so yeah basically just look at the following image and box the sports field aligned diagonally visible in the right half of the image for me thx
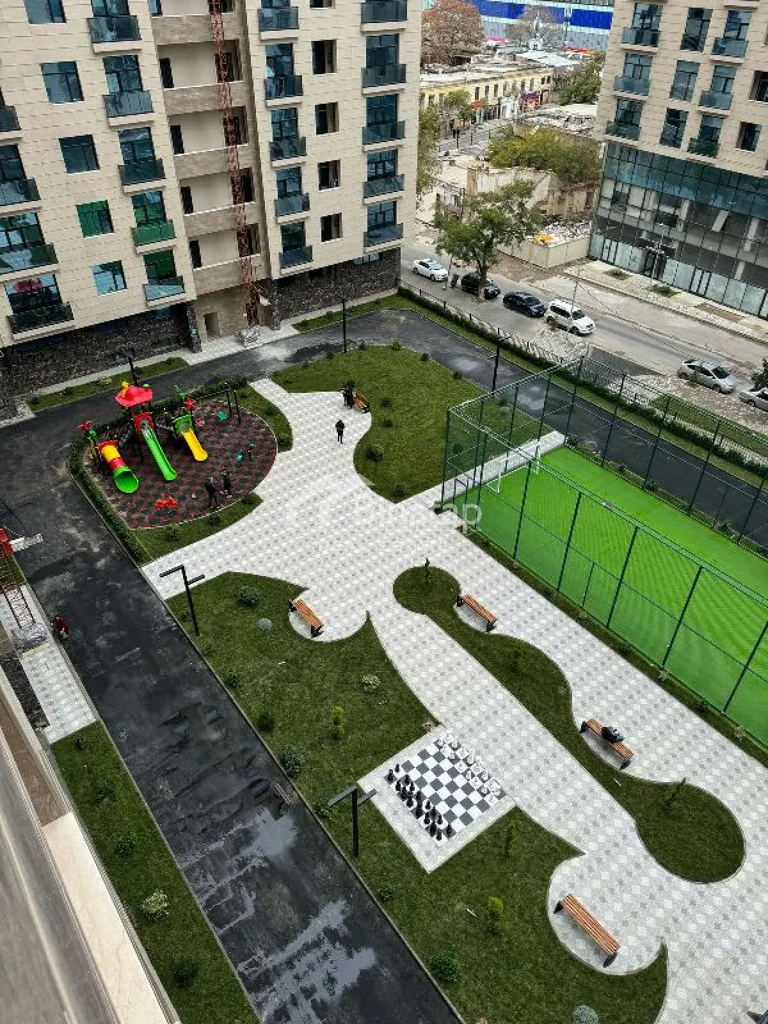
[448,443,768,738]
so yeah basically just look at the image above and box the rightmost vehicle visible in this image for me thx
[741,384,768,413]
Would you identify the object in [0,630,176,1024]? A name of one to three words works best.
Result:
building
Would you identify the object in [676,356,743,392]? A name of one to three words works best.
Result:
car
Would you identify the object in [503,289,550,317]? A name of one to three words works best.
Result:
car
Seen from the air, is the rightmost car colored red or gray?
gray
